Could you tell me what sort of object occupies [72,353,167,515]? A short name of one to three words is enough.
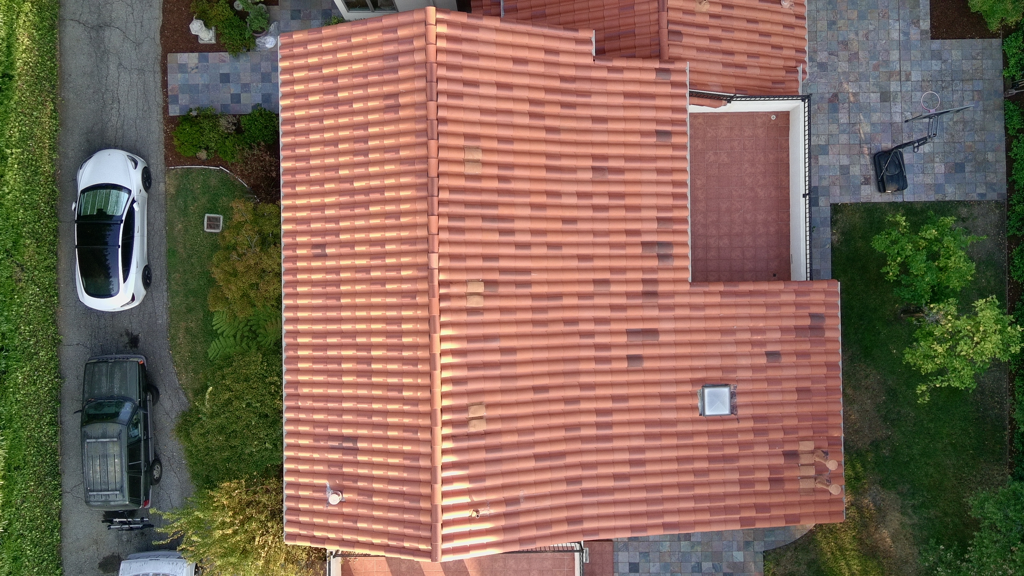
car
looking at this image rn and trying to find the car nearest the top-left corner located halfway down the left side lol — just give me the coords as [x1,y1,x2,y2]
[71,151,158,313]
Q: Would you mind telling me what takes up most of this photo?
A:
buildings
